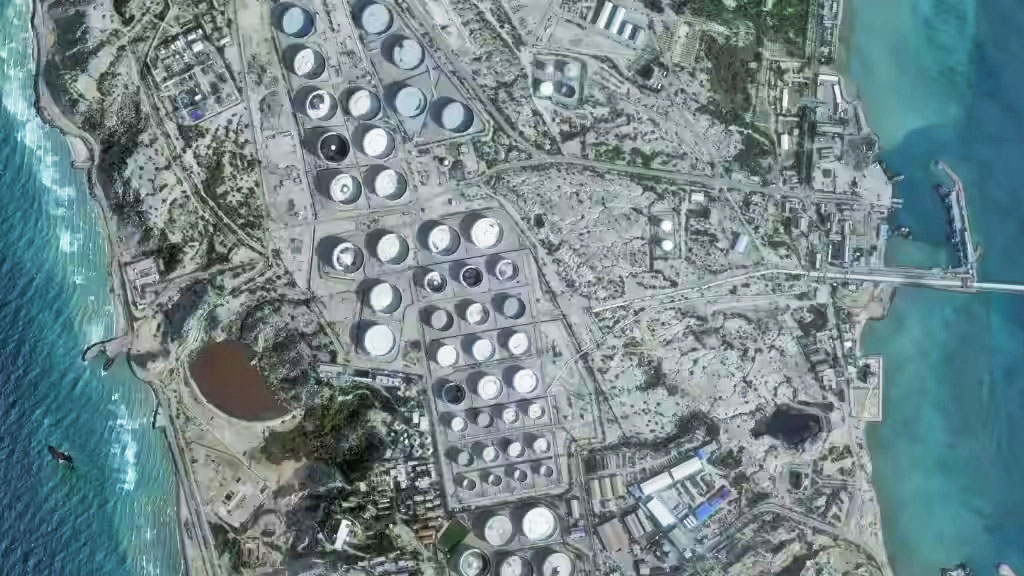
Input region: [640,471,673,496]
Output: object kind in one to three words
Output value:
building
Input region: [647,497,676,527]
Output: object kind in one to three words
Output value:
building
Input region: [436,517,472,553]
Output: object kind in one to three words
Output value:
sports field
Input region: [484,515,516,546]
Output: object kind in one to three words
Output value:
storage tank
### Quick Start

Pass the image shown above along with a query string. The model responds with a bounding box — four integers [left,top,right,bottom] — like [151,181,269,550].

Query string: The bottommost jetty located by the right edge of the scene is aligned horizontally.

[812,271,1024,291]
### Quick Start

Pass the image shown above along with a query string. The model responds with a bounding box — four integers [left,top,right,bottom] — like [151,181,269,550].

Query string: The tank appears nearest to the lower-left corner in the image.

[363,324,396,357]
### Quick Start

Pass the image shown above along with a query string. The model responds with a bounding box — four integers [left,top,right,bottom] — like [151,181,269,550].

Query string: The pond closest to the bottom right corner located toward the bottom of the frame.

[752,403,822,448]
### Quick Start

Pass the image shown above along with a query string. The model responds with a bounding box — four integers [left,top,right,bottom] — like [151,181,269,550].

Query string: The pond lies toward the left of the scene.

[190,340,290,419]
